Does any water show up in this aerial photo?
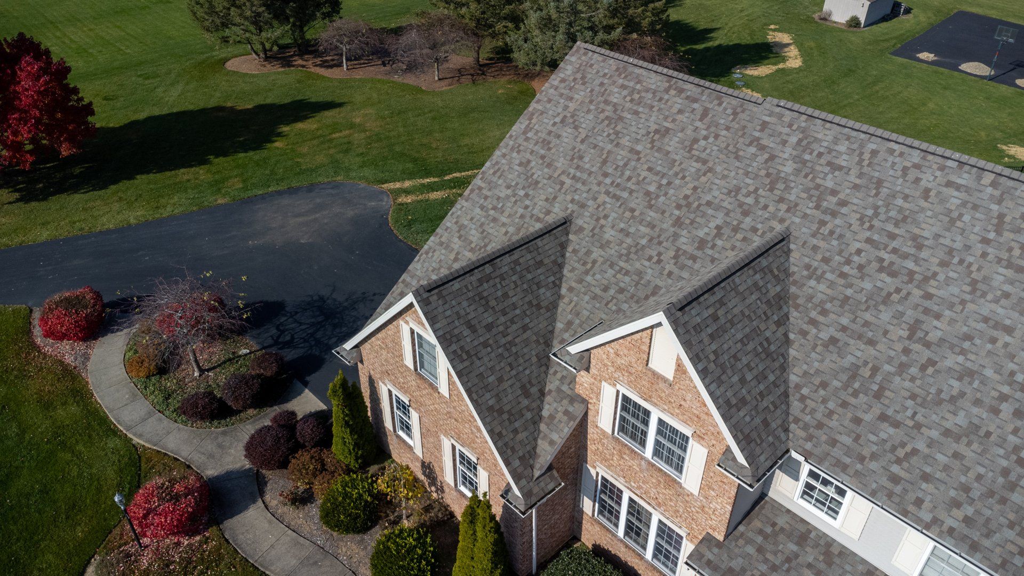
No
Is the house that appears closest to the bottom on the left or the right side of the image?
right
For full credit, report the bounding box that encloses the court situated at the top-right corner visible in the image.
[890,10,1024,90]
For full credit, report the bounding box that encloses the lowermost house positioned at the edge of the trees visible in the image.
[331,40,1024,576]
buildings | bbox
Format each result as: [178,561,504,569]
[822,0,901,27]
[331,40,1024,576]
